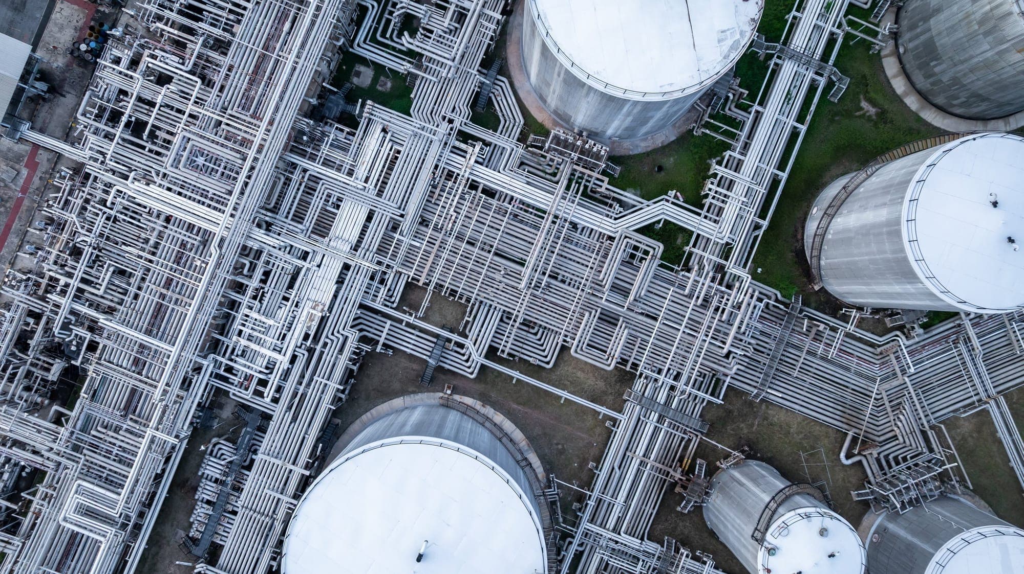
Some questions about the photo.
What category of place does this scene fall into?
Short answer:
industrial area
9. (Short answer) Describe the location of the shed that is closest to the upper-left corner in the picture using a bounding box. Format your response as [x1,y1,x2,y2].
[0,34,59,131]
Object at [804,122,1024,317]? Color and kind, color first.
white storage tank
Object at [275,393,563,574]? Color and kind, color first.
white storage tank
